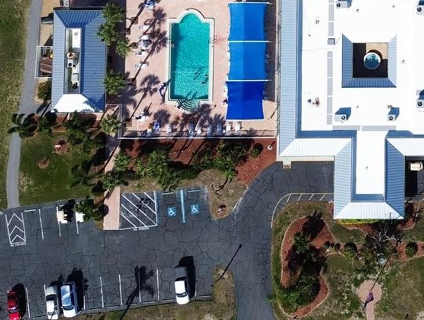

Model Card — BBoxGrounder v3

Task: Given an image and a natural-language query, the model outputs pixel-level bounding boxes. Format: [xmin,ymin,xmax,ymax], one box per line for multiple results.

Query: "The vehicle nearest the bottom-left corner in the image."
[6,288,24,319]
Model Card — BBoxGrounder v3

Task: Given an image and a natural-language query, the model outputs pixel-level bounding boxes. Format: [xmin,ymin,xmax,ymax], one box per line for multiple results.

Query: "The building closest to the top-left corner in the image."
[51,10,110,112]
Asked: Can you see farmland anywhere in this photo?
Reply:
No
